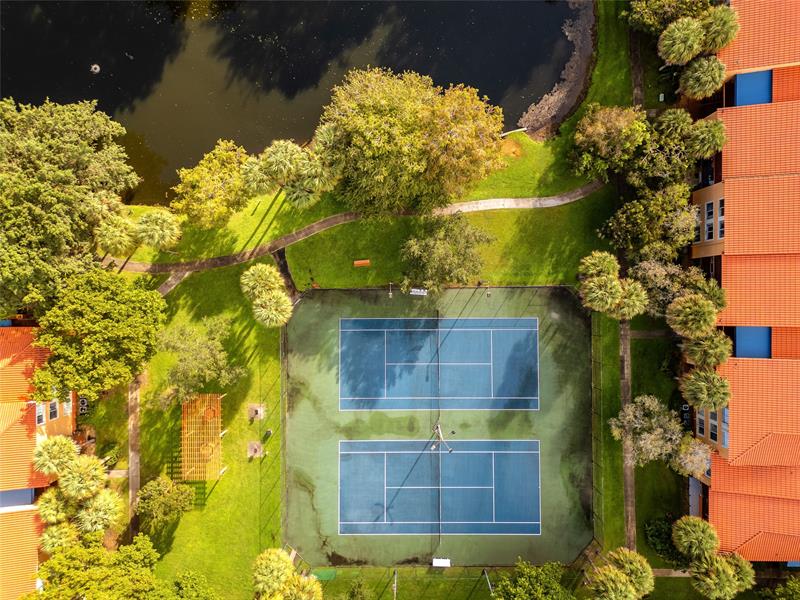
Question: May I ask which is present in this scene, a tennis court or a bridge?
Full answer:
The one in the frame is a tennis court.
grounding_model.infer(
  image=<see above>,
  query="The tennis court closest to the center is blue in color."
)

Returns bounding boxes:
[338,318,540,411]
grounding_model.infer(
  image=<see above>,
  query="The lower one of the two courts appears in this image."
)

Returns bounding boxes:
[338,441,541,535]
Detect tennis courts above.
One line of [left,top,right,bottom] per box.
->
[338,318,540,411]
[338,441,541,535]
